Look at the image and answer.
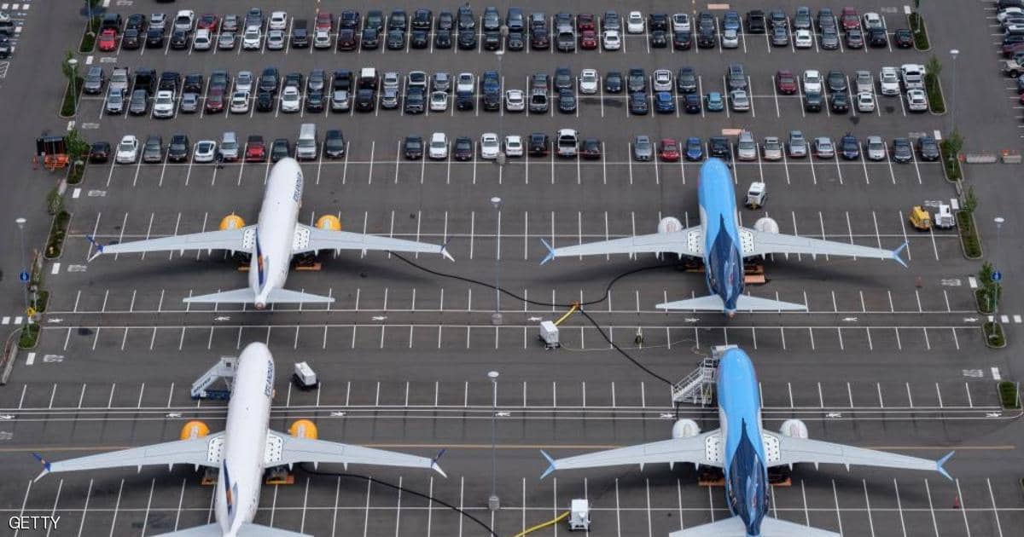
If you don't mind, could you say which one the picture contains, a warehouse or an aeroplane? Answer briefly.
aeroplane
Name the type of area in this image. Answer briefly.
parking lot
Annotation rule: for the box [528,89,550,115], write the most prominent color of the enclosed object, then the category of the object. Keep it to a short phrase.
gray truck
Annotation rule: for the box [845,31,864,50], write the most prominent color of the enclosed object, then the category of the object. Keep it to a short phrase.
gray car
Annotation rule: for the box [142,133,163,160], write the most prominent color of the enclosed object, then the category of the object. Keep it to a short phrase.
gray car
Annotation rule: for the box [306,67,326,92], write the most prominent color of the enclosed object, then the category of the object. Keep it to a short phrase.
gray vehicle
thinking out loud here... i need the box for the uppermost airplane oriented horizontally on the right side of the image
[540,157,909,318]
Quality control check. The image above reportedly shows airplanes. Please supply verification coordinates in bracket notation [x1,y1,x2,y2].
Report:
[541,348,956,537]
[540,157,909,318]
[31,341,446,537]
[86,157,454,310]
